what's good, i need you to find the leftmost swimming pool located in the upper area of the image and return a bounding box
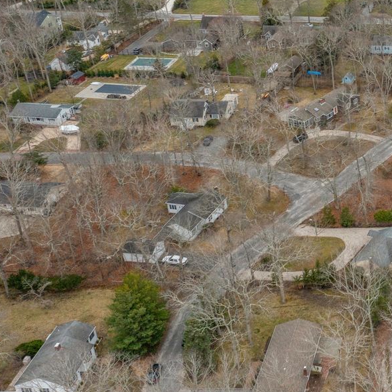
[75,82,147,100]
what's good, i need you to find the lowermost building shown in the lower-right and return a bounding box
[253,318,329,392]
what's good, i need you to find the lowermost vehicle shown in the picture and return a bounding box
[143,360,164,388]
